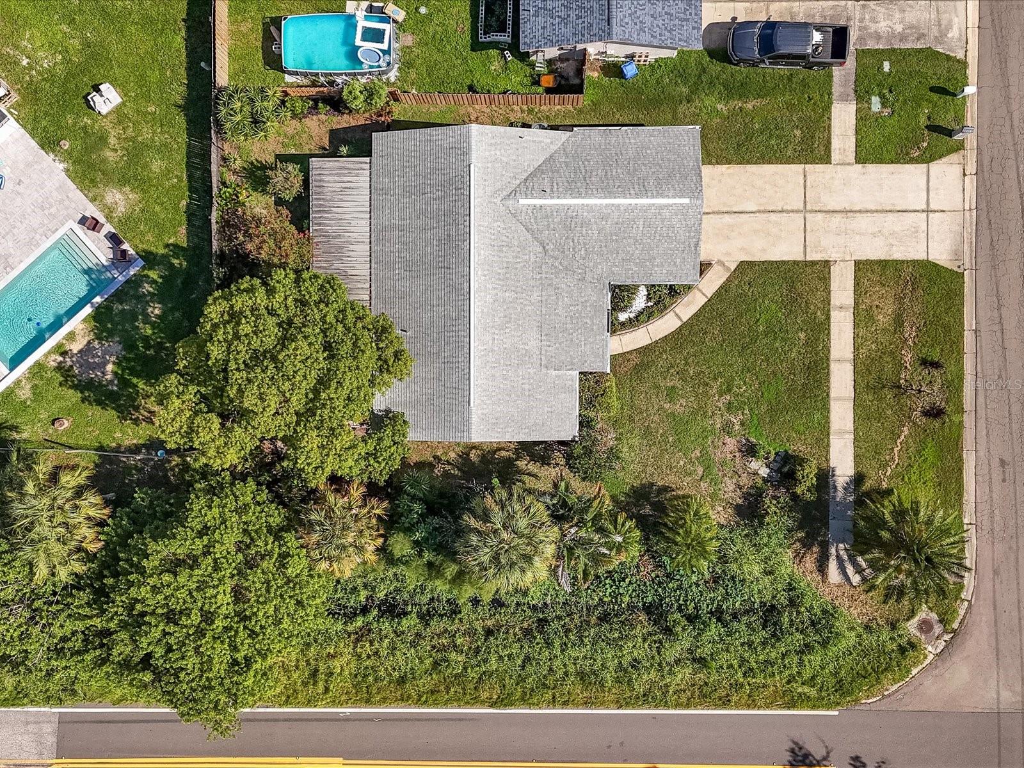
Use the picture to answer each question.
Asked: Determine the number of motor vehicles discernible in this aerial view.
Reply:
1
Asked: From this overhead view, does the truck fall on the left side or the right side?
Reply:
right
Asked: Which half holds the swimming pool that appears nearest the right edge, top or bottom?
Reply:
top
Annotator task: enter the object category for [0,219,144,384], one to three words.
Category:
swimming pool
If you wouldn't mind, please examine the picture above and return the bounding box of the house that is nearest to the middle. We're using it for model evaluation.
[371,122,705,444]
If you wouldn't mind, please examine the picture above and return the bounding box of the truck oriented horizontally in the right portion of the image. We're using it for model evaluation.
[726,15,853,72]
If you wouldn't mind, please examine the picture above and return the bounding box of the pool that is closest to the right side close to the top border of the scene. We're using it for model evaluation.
[282,11,403,89]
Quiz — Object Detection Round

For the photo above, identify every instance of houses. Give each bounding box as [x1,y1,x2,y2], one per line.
[519,0,703,59]
[371,122,705,444]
